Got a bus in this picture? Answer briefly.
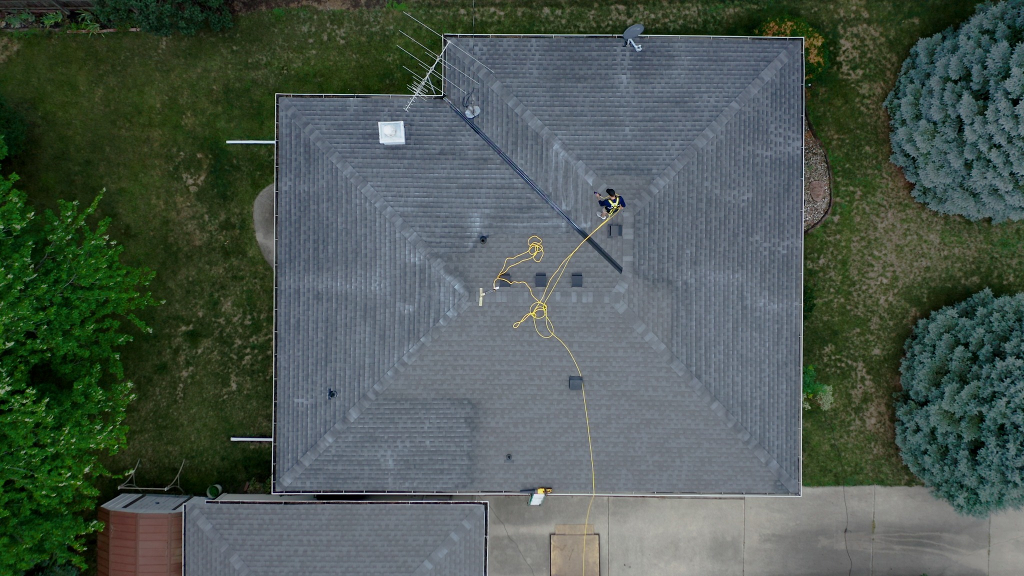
No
